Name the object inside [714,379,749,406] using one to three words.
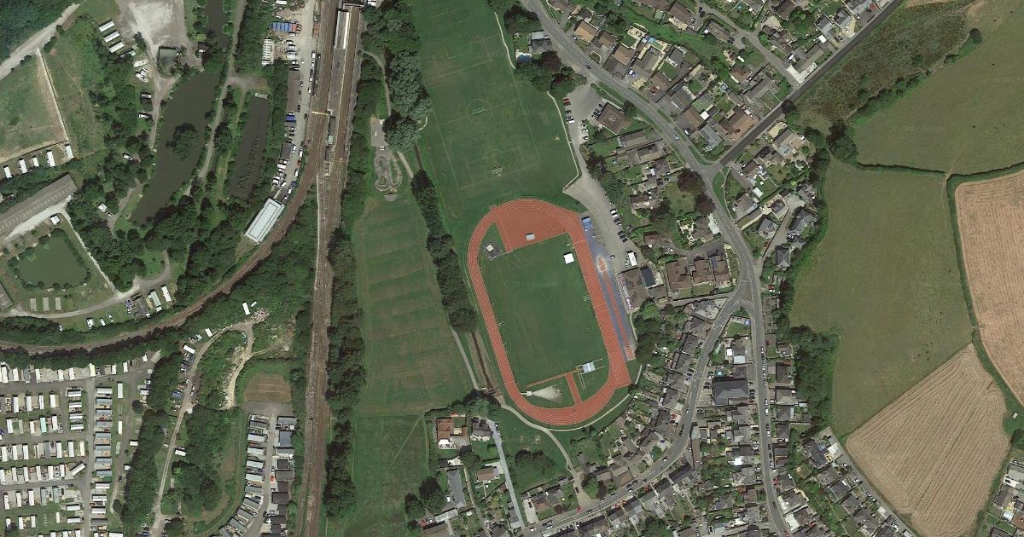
building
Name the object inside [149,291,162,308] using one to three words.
vehicle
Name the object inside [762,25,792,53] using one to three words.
house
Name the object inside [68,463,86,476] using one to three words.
vehicle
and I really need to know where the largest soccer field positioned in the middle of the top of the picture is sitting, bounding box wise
[421,35,540,189]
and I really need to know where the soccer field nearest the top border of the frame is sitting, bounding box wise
[420,7,497,77]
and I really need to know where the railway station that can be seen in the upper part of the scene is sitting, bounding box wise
[326,1,364,175]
